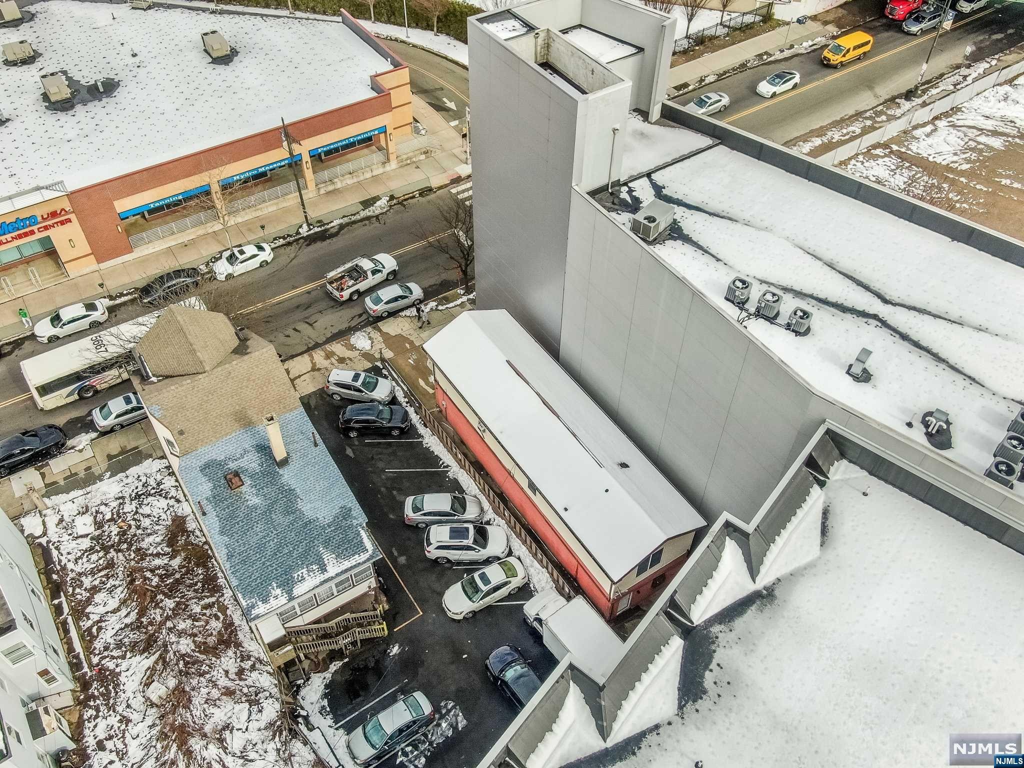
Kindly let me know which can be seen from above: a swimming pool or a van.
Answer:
van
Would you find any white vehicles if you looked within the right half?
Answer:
Yes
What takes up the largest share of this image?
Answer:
buildings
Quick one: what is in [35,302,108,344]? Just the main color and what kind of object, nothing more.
white car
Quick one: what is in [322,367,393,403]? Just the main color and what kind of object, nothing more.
gray car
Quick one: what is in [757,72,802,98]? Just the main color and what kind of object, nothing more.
white car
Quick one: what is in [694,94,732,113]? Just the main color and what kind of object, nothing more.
gray car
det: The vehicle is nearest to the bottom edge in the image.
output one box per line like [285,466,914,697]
[339,688,437,768]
